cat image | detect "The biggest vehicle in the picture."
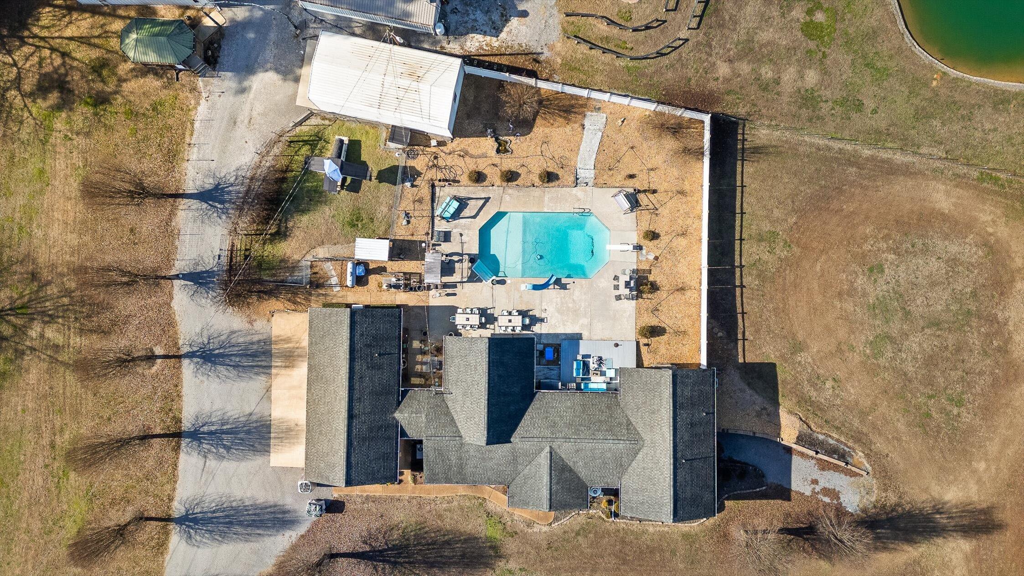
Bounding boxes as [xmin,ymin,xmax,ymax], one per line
[307,497,327,515]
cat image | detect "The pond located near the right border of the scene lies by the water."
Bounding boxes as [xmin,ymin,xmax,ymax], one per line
[888,0,1024,92]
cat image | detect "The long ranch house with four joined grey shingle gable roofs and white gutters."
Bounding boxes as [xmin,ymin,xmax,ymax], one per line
[303,307,718,523]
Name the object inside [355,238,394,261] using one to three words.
shed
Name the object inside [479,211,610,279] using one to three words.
swimming pool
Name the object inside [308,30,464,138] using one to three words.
barn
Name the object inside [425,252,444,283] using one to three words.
building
